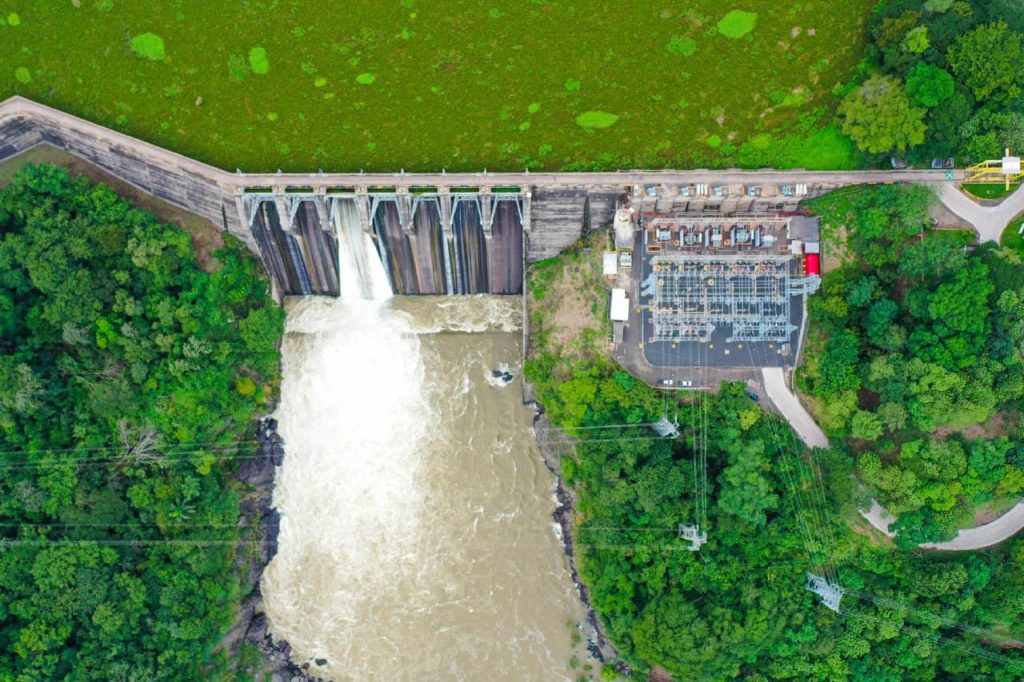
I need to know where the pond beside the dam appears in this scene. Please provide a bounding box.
[0,0,868,197]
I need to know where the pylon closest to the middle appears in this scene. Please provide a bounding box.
[647,416,677,447]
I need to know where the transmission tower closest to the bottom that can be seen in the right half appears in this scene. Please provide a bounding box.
[803,568,851,610]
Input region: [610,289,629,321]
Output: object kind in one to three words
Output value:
building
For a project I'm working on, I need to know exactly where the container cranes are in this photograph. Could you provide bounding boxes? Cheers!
[963,148,1024,190]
